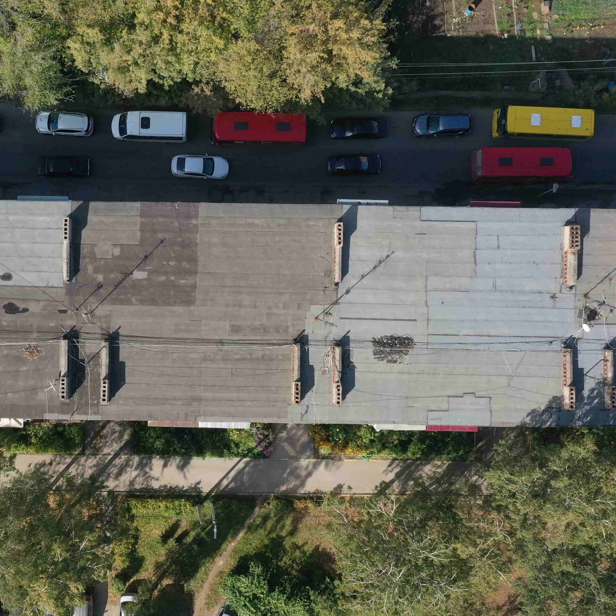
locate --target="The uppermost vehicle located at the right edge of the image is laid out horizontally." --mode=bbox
[491,105,598,142]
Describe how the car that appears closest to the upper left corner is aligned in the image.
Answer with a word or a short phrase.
horizontally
